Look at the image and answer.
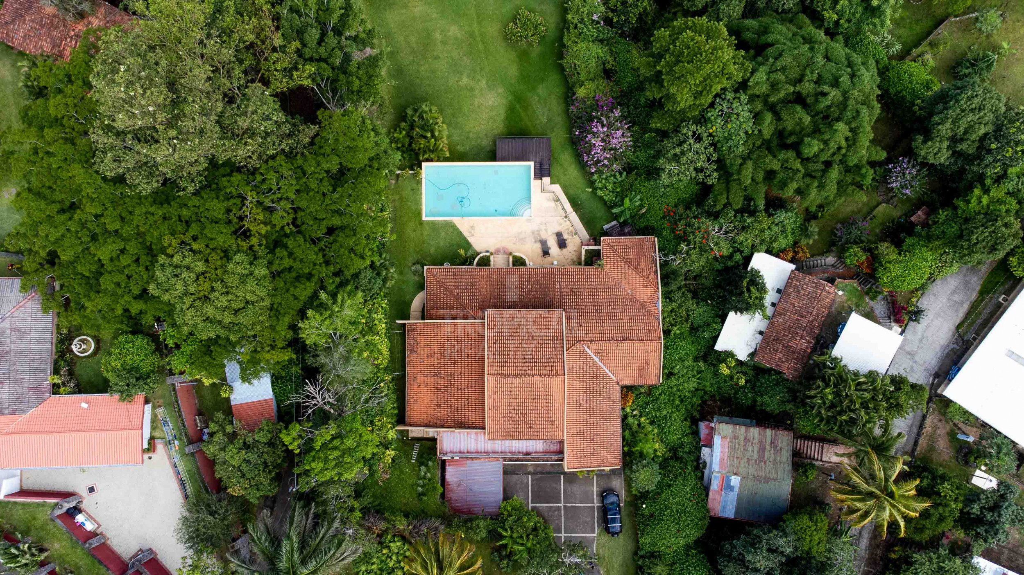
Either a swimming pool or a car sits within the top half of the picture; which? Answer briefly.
swimming pool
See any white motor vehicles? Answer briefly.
No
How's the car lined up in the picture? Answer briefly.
from top to bottom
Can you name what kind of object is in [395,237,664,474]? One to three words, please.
house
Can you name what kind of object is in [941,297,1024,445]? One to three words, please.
building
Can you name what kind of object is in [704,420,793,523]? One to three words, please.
shed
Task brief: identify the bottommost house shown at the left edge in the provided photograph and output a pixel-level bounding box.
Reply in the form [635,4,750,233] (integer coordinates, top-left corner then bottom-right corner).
[0,392,149,470]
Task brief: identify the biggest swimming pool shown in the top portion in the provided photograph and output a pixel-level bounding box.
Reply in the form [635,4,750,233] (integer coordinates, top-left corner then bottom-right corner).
[422,162,534,220]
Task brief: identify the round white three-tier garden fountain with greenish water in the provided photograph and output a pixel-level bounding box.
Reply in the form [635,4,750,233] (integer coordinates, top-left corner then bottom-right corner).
[70,334,98,357]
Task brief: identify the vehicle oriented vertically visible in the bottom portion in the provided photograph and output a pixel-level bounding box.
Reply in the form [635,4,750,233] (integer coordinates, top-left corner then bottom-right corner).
[599,488,623,537]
